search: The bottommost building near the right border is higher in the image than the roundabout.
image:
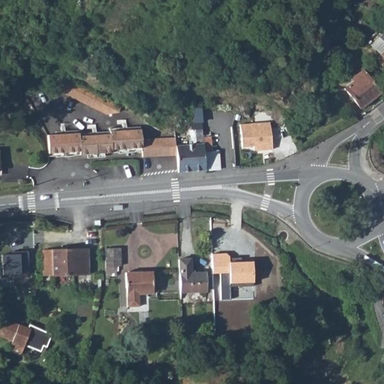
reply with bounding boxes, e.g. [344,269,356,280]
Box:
[340,70,382,110]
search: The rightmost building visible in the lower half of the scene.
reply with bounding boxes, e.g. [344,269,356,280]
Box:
[211,252,256,301]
